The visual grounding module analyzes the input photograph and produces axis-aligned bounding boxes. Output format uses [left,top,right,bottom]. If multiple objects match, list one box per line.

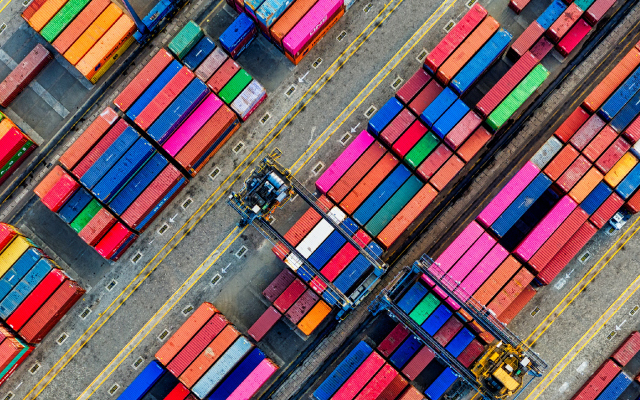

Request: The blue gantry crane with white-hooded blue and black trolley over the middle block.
[219,148,394,320]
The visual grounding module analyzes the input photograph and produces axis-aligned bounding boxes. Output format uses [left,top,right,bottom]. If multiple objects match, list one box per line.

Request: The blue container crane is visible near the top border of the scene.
[119,0,186,46]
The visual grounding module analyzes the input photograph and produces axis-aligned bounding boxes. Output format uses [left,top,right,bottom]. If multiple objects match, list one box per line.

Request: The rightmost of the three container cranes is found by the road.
[367,254,552,400]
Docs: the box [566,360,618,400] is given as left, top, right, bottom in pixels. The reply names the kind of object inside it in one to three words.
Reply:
shipping container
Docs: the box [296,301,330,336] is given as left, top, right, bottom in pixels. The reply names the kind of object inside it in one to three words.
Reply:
shipping container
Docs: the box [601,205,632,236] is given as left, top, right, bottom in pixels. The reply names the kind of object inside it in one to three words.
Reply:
truck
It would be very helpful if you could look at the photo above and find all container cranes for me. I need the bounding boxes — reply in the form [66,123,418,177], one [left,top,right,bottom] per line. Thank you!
[119,0,186,46]
[219,148,394,320]
[367,254,552,400]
